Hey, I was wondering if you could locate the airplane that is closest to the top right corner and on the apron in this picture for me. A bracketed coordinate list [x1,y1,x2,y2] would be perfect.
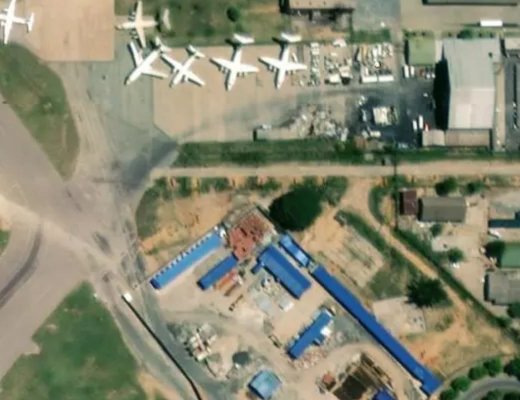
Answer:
[262,36,308,87]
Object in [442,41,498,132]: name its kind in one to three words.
hangar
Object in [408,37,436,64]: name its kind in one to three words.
shed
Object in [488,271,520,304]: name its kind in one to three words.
house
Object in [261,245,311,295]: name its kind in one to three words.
shed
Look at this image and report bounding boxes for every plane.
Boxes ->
[167,43,210,86]
[126,37,171,82]
[262,36,308,87]
[214,37,261,88]
[117,0,168,46]
[0,0,34,43]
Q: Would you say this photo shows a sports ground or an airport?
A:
airport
